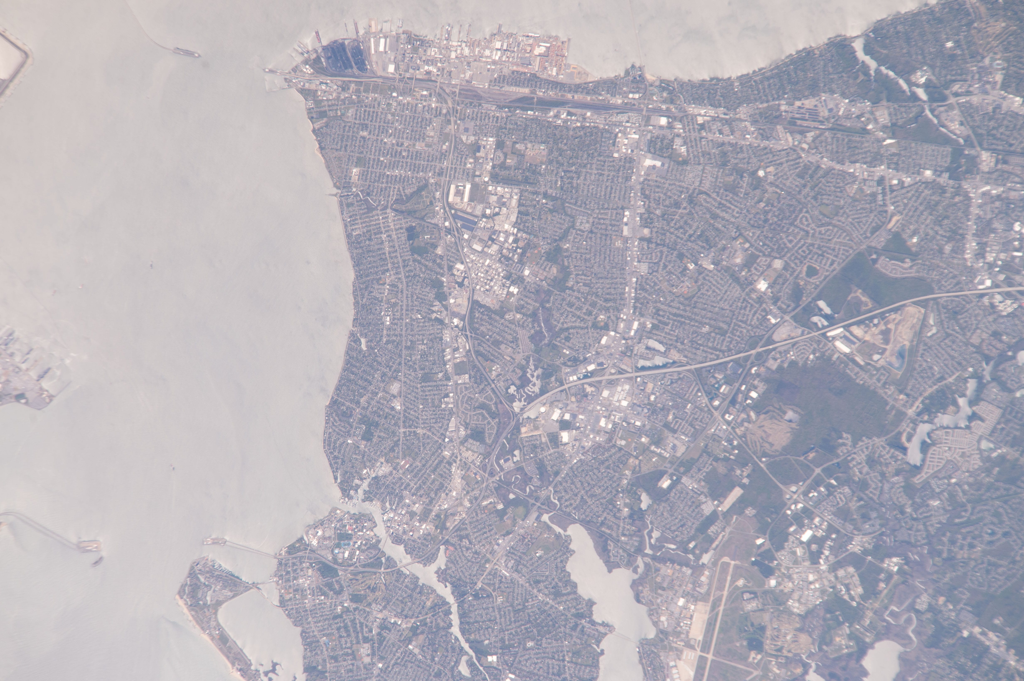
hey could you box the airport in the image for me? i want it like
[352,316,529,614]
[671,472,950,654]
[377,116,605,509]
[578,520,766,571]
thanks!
[672,524,788,681]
